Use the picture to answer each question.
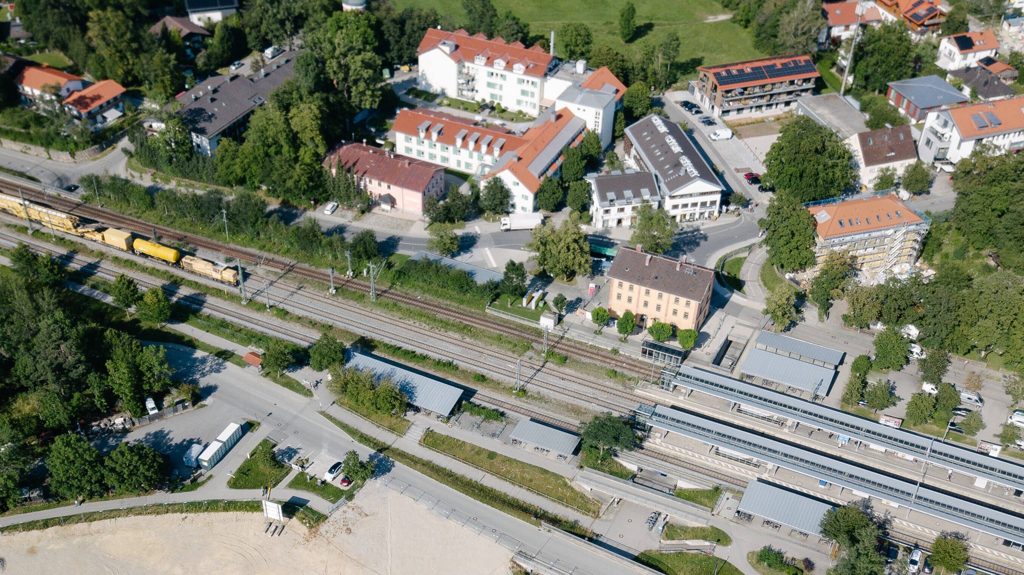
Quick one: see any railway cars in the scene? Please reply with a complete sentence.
Yes, looking at the shot, I can spot a railway car.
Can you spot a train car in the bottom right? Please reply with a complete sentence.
No, in the bottom right there is no train car.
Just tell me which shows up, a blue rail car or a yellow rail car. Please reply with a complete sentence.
Looking from above, you can make out a yellow rail car.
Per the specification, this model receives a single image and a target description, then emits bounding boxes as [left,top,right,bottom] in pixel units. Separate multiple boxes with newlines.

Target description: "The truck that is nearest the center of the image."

[501,212,545,234]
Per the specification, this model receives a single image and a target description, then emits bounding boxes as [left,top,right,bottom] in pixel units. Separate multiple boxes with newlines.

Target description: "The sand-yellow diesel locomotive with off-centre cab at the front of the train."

[179,254,240,285]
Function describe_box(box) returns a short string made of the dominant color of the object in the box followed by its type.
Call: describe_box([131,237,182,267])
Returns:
yellow rail car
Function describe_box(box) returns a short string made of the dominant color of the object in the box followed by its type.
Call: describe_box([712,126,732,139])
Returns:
white vehicle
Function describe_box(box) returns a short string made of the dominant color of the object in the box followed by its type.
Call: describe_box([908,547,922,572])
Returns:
white car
